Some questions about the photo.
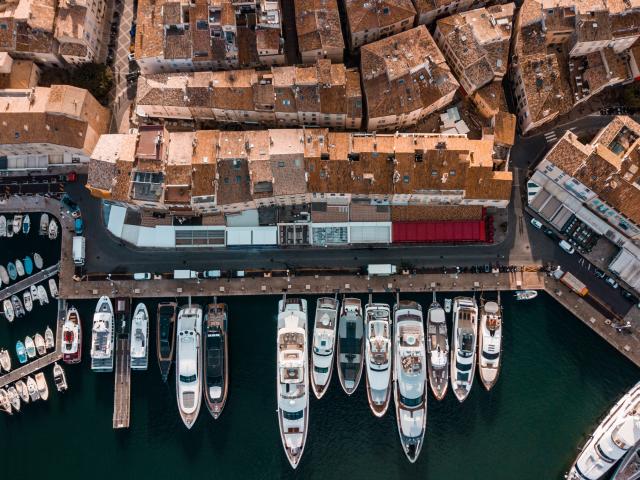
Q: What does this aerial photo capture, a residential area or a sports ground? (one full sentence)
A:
It's a residential area.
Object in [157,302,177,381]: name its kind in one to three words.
boat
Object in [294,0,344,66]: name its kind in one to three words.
house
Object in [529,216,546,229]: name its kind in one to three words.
vehicle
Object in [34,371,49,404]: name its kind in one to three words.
boat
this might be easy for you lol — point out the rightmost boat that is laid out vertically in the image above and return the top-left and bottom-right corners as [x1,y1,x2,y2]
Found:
[474,292,505,398]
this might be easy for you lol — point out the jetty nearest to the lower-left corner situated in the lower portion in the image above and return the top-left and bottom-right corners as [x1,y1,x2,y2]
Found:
[0,348,62,386]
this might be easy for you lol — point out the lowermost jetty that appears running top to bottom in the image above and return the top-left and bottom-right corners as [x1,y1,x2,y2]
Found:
[112,341,132,429]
